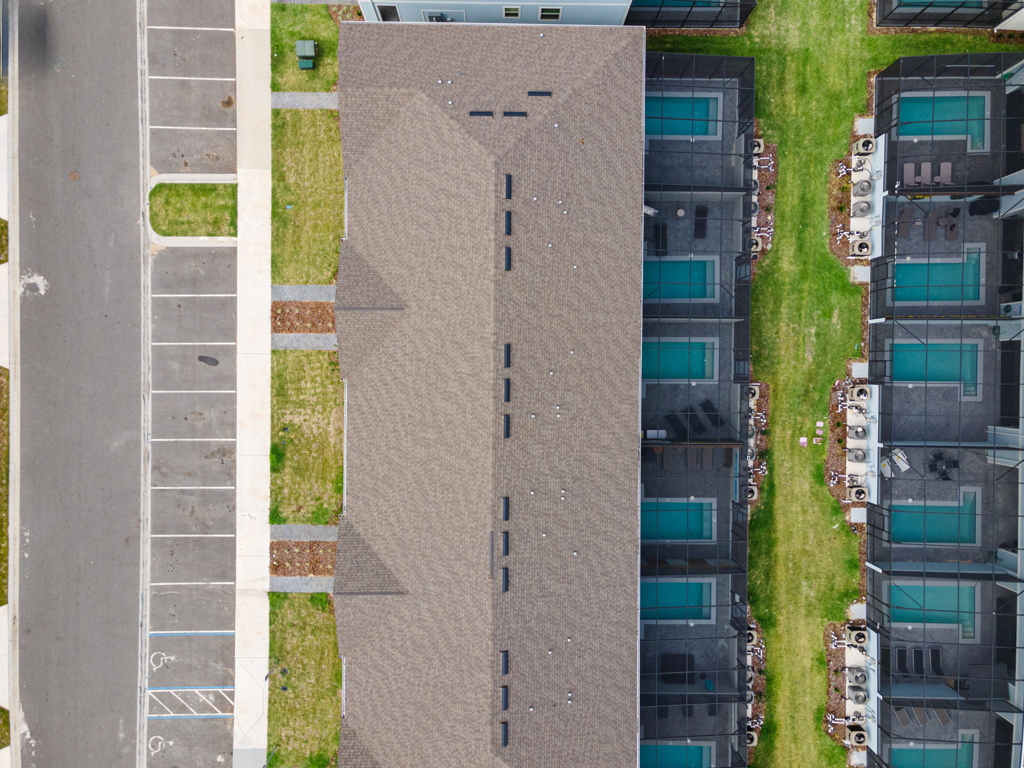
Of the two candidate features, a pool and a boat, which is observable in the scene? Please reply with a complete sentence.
This aerial view contains a pool.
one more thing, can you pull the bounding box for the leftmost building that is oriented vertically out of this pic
[336,21,646,768]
